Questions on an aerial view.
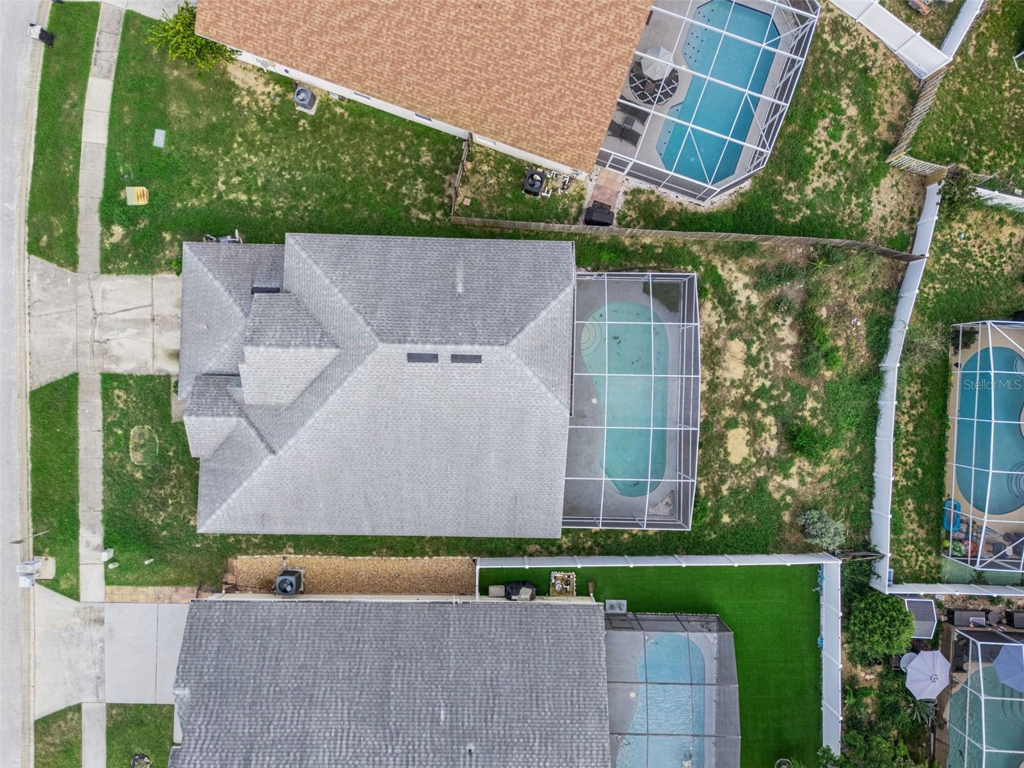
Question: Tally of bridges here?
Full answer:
No bridges are visible.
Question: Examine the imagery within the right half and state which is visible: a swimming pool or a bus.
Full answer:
Visible within the right half is a swimming pool.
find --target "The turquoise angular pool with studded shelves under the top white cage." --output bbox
[653,0,784,187]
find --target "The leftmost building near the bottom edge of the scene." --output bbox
[168,588,611,768]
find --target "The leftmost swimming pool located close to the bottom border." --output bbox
[613,632,709,768]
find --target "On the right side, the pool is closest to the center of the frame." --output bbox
[577,298,673,500]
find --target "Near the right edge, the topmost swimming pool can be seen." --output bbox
[988,343,1023,518]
